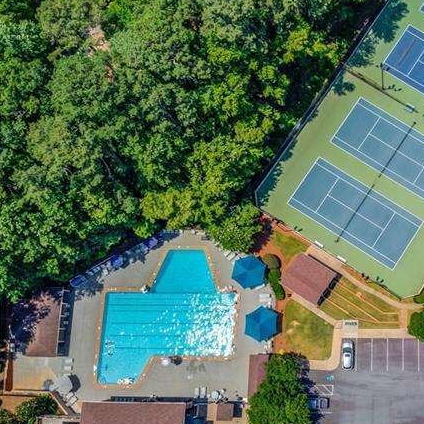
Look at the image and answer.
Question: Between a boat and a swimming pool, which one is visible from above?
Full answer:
The image shows a swimming pool.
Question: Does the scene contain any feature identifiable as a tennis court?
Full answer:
Yes, a tennis court is visible in the scene.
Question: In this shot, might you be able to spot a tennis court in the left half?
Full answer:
No, no tennis court can be made out in the left half.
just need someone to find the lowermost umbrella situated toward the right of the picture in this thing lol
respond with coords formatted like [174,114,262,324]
[243,306,276,345]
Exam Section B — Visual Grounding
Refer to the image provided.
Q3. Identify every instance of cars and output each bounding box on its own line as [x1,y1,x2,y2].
[340,341,354,369]
[304,397,330,411]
